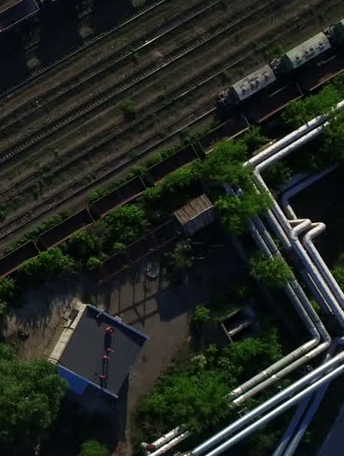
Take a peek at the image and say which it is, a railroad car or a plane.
railroad car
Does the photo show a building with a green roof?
No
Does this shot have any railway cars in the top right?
Yes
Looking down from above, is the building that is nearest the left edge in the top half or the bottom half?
bottom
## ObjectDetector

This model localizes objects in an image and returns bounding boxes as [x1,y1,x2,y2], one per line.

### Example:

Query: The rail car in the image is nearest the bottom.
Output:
[0,238,41,278]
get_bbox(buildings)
[48,303,149,398]
[169,193,218,237]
